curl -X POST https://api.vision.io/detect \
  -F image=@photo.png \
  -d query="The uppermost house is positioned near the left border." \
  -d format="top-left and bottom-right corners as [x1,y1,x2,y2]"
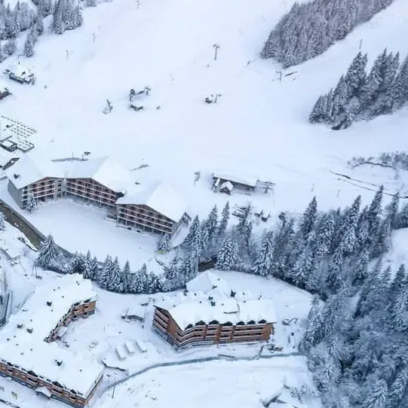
[9,60,41,84]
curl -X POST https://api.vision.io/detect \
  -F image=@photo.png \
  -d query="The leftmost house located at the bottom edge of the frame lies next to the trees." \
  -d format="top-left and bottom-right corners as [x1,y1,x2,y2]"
[0,272,106,408]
